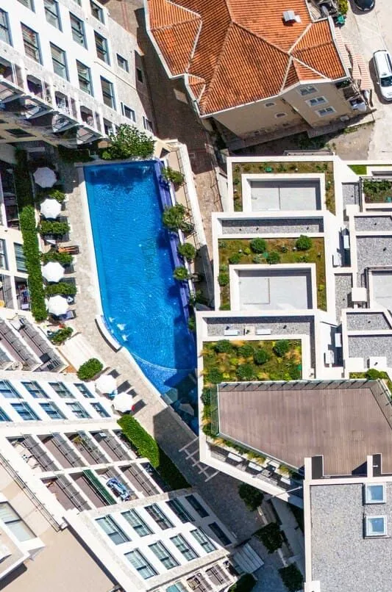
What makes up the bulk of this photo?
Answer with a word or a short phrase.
buildings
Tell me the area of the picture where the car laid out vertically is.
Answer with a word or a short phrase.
top right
